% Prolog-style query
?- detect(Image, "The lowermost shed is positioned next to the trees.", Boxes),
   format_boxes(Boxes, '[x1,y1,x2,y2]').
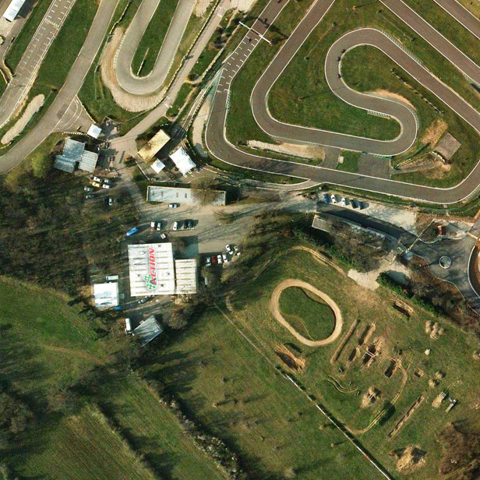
[133,316,162,341]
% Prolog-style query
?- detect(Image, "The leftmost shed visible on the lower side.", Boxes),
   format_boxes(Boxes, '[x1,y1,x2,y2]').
[93,283,119,308]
